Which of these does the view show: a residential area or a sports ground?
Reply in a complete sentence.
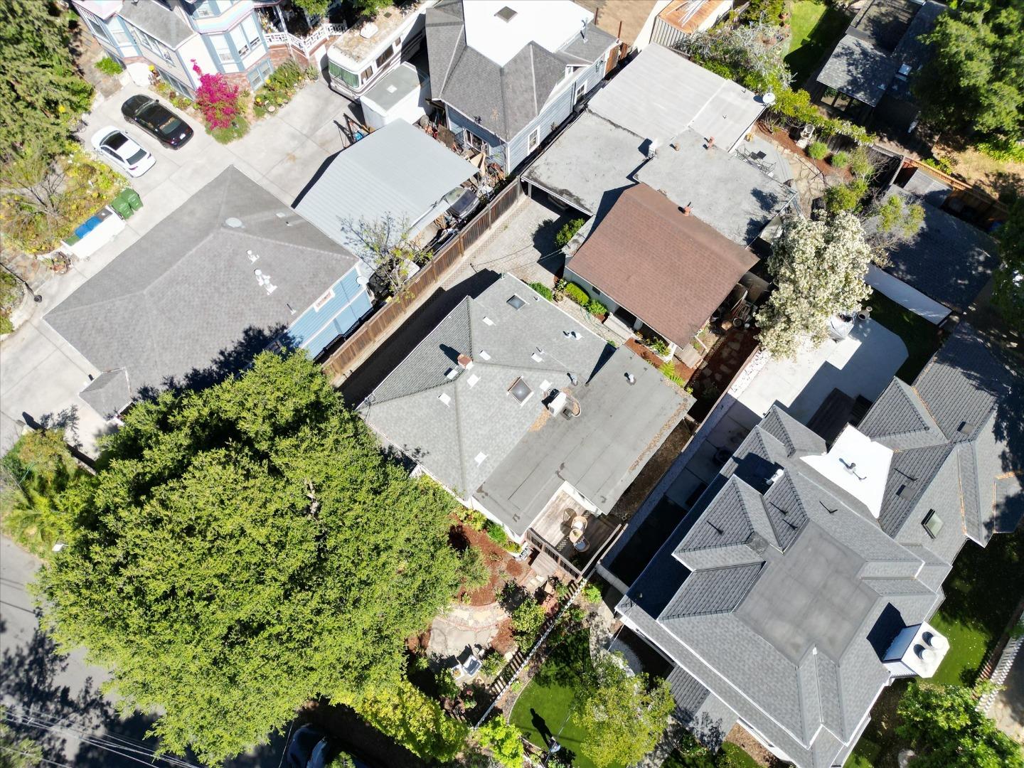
This image shows a residential area.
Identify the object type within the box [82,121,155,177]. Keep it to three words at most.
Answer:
car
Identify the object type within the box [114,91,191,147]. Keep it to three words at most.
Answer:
car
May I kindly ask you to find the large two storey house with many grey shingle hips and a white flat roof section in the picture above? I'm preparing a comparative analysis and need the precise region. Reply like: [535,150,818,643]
[614,335,1024,768]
